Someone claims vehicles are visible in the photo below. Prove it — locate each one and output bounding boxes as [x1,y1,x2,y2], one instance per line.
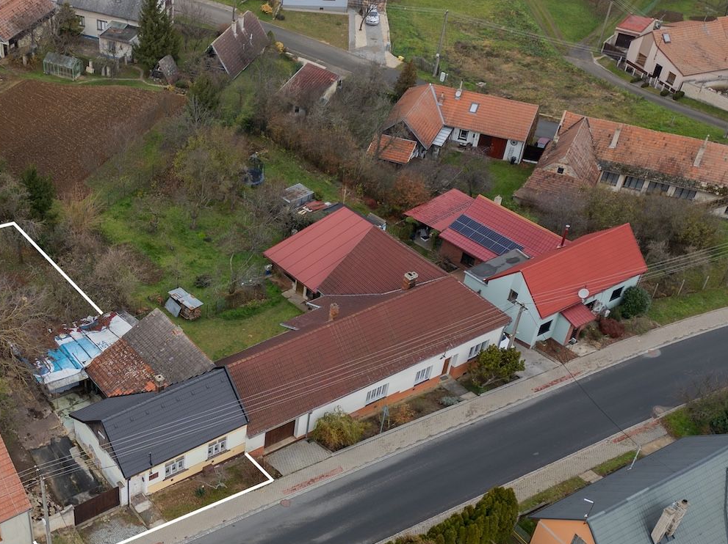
[537,130,555,147]
[366,6,381,21]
